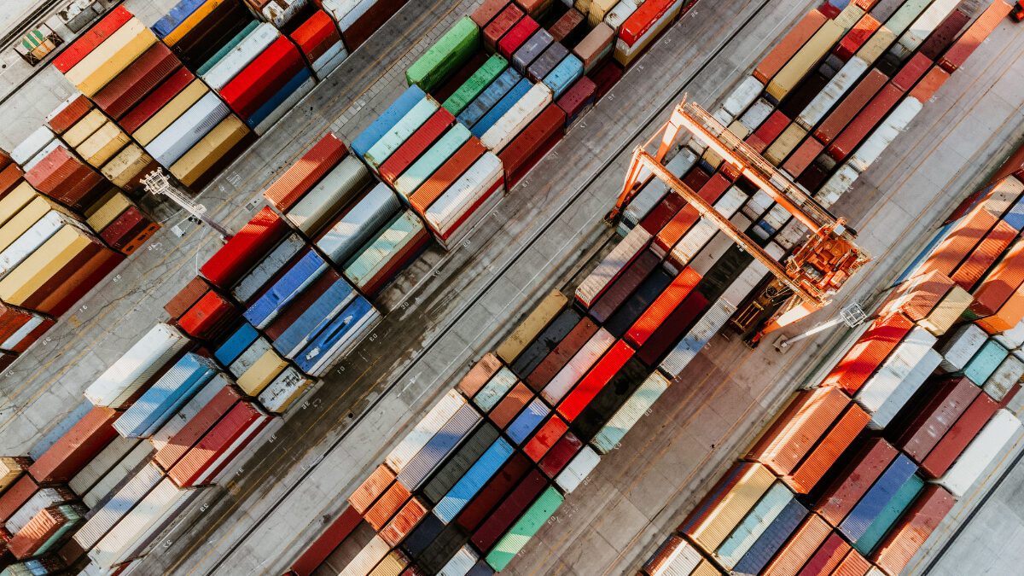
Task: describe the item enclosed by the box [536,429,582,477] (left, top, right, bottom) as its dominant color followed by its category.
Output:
red shipping container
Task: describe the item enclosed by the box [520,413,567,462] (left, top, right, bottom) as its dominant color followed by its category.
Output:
red shipping container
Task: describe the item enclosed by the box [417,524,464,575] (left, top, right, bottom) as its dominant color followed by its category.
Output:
black shipping container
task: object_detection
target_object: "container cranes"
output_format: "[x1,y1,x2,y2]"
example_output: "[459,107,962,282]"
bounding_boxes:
[602,84,882,356]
